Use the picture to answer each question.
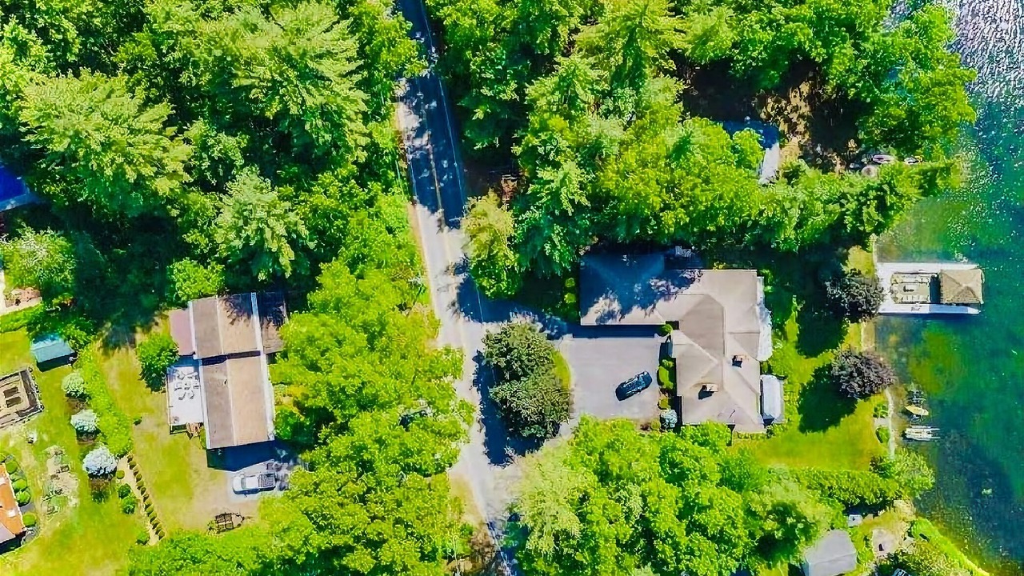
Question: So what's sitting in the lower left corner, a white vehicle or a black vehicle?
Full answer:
Visible in the lower left corner is a white vehicle.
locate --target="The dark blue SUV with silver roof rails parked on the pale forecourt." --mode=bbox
[616,373,654,402]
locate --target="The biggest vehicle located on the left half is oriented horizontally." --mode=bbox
[231,473,277,495]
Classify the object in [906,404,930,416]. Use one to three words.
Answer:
boat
